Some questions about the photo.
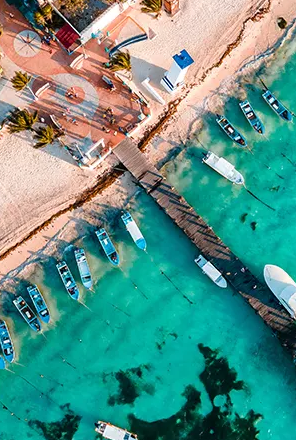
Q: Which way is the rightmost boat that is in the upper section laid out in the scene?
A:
on a diagonal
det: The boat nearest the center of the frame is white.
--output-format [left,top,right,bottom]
[121,210,145,250]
